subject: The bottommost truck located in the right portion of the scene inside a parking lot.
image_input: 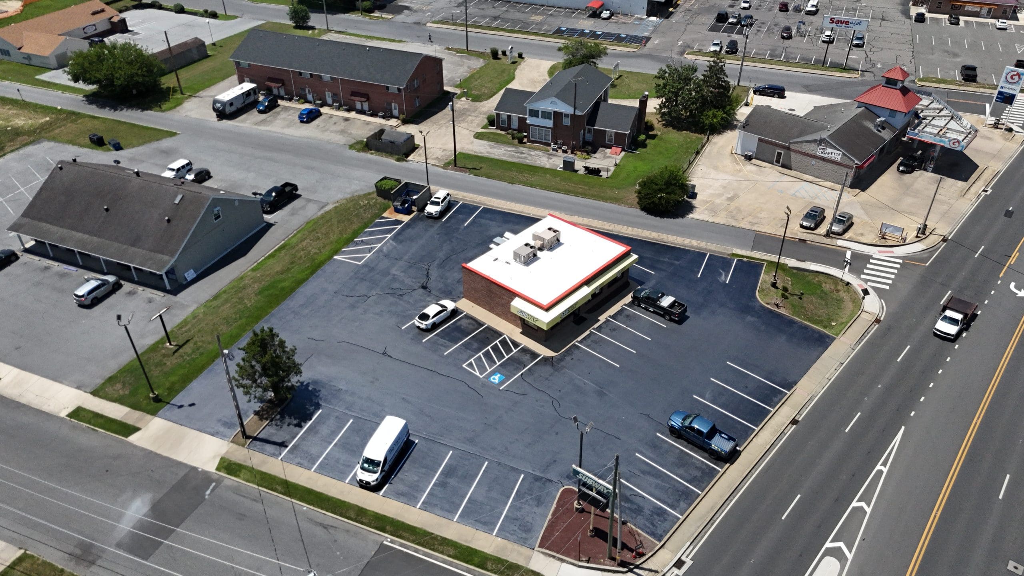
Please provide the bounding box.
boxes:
[662,410,744,464]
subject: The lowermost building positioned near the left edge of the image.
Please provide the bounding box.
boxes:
[6,155,264,288]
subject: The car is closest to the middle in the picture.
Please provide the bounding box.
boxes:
[408,300,460,333]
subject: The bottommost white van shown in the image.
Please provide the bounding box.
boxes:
[351,414,413,494]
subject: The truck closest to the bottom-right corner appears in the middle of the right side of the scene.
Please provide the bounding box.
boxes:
[929,291,984,345]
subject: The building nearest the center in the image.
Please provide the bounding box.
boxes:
[460,213,640,340]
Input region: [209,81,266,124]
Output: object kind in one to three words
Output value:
trailer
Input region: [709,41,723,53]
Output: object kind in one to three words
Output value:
vehicle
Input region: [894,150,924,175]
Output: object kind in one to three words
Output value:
car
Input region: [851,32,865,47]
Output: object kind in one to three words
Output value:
car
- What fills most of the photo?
paved ground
